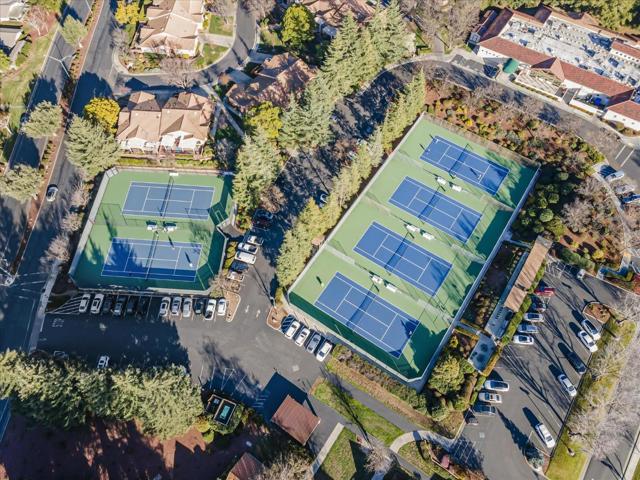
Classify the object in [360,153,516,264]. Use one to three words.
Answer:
tennis court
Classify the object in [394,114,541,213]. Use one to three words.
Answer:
tennis court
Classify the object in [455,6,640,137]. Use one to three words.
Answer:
building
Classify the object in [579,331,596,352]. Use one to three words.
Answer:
car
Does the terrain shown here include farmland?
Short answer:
No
